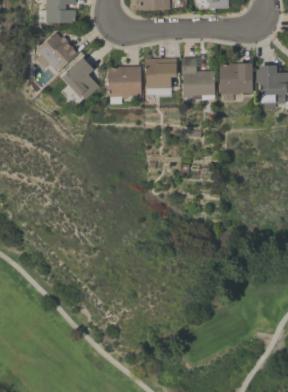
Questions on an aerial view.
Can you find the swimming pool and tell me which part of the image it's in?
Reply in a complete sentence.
The swimming pool is located in the top left region of the scene.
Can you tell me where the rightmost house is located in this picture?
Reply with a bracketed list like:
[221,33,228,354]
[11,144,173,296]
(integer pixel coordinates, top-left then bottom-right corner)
[256,66,288,108]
